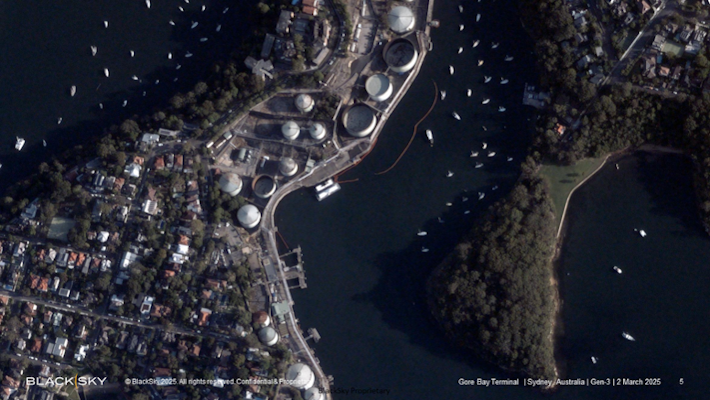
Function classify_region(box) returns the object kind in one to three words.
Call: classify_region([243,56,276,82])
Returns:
building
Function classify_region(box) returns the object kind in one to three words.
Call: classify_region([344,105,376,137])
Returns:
storage tank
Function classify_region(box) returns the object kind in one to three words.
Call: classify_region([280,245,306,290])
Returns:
pier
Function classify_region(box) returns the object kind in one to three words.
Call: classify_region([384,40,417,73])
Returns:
storage tank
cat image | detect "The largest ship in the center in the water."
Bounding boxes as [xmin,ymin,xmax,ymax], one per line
[318,185,340,201]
